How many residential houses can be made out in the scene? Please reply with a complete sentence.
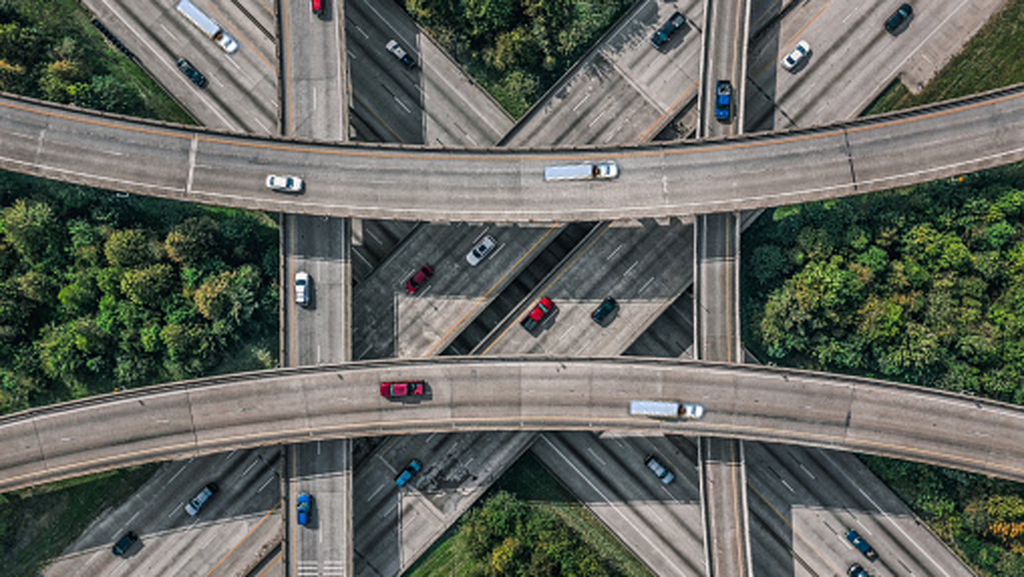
The photo contains no residential houses.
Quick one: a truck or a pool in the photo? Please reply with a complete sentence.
Looking from above, you can make out a truck.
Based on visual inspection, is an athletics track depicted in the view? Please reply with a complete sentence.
No, the frame has no athletics track in it.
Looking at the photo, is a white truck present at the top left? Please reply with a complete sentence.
Yes, a white truck is visible at the top left.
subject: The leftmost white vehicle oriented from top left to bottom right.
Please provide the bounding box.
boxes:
[176,0,239,55]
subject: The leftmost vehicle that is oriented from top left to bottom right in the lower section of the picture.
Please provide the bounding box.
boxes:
[643,454,675,485]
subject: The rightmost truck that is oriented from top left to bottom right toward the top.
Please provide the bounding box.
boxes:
[385,37,419,71]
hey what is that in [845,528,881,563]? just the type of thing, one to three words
truck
